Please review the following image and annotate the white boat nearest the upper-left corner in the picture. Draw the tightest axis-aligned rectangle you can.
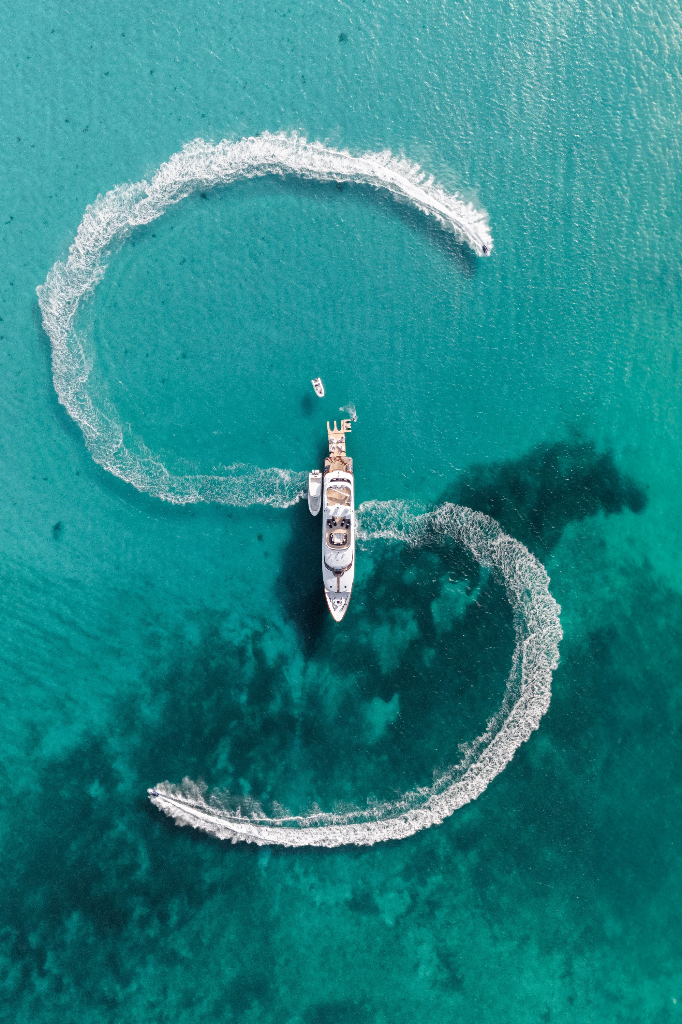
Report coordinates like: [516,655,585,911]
[311,377,324,396]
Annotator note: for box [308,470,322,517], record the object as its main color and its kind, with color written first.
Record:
white boat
